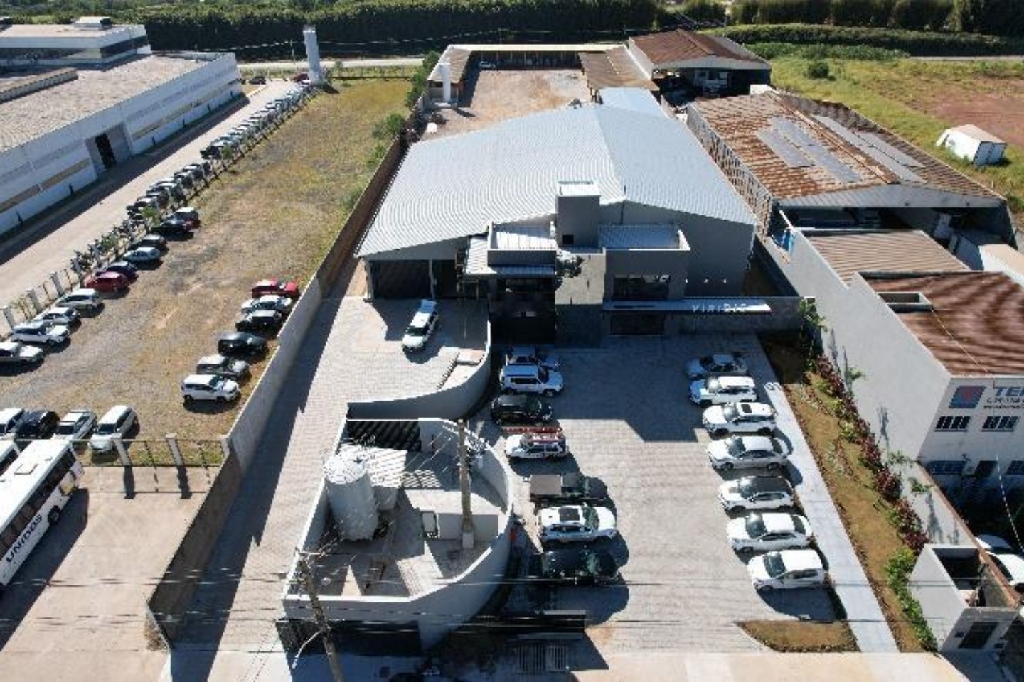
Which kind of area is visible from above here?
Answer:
industrial area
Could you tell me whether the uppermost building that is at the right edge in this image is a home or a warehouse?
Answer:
warehouse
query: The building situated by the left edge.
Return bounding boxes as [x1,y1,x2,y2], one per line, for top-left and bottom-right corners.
[0,14,241,237]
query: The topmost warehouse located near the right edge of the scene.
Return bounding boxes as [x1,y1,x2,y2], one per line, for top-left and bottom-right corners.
[686,81,1007,246]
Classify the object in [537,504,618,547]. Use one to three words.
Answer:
car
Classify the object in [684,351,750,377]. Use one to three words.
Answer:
car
